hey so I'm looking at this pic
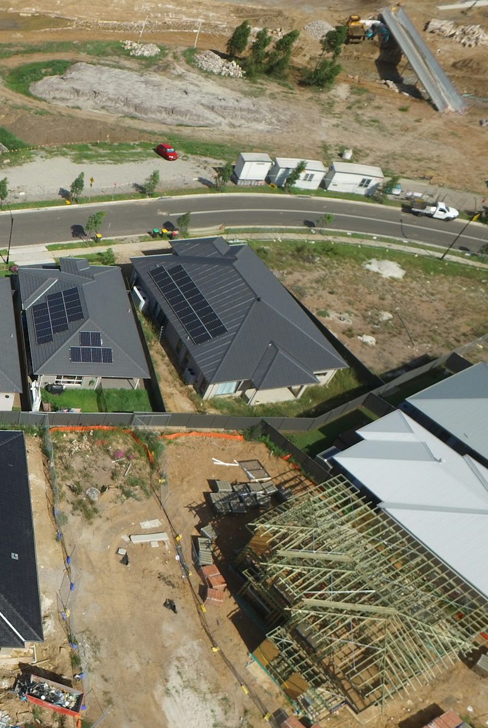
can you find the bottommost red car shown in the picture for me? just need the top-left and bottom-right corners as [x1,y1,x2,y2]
[155,142,180,160]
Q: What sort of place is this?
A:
residential area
